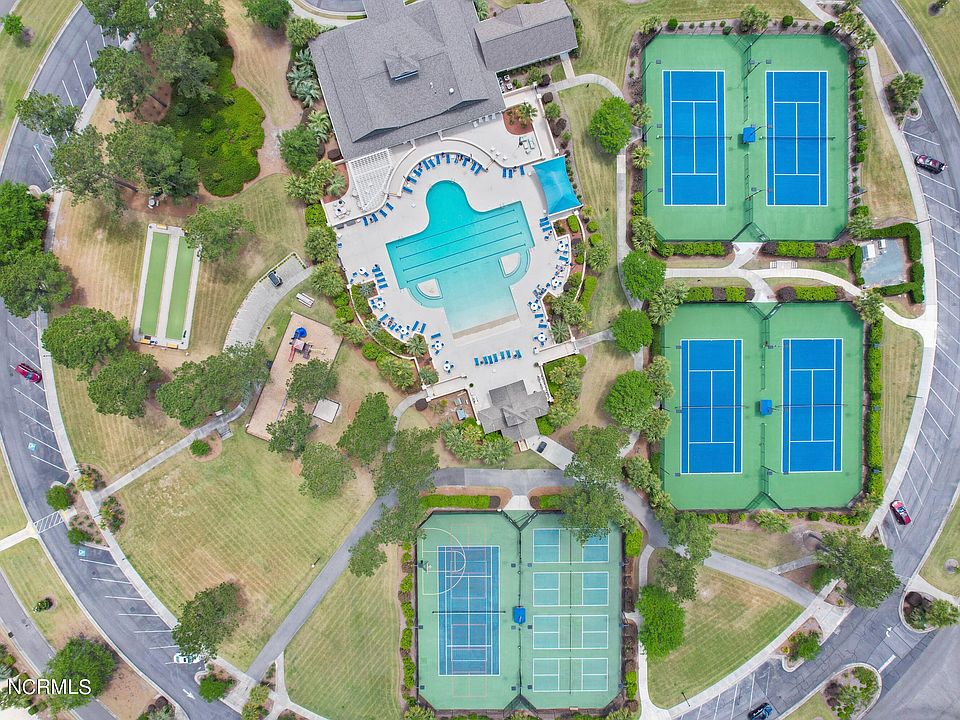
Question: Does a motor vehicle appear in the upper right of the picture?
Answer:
Yes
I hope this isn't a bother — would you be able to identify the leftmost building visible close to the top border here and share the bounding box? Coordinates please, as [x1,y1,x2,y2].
[308,0,578,161]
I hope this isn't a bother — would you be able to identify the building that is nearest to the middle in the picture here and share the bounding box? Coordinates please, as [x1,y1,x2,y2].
[478,380,549,444]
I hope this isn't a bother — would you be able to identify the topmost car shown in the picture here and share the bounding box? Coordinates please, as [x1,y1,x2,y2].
[915,156,944,175]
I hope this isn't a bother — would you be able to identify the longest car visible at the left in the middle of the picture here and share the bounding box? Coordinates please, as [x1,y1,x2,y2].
[17,362,43,383]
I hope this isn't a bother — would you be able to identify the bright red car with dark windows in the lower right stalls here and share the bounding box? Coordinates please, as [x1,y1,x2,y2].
[889,499,911,527]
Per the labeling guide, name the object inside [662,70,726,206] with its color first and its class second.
blue tennis court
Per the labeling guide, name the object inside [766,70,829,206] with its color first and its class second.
blue tennis court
